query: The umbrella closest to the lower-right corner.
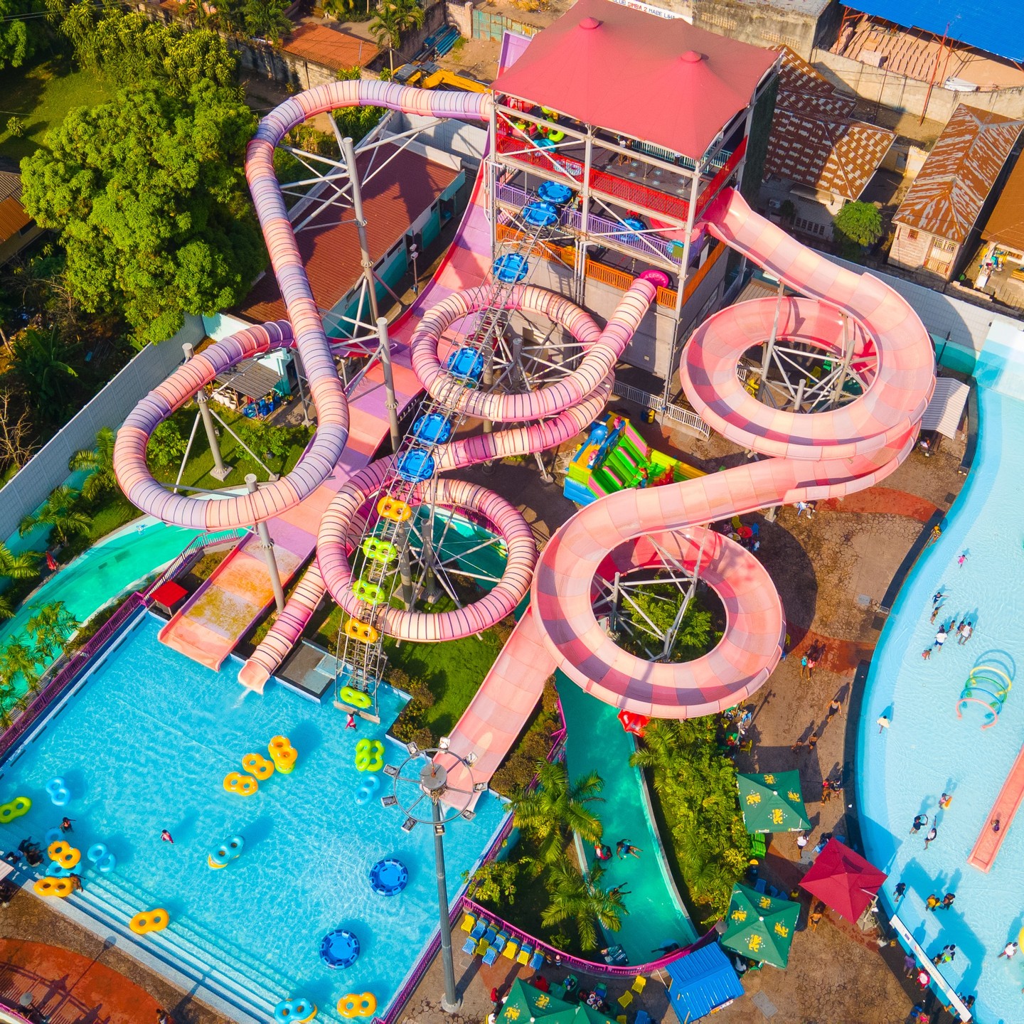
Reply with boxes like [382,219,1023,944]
[799,839,889,941]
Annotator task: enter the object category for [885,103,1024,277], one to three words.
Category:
house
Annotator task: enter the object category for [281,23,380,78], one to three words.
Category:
shed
